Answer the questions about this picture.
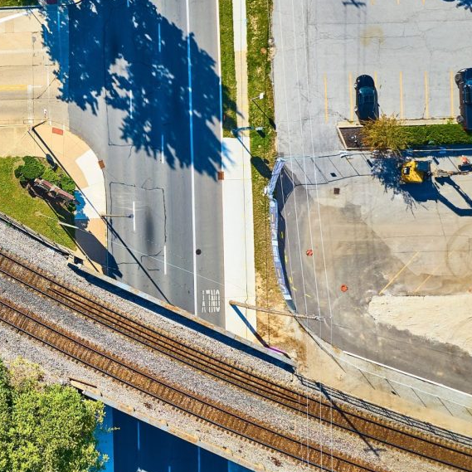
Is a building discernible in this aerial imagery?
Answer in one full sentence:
No, there isn't any building down there.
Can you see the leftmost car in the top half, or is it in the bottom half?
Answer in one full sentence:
It is in the top half that the leftmost car appears.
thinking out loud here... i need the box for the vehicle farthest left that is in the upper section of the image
[355,75,378,122]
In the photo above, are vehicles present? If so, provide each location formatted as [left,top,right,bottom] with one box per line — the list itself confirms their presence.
[355,75,378,122]
[400,161,472,184]
[455,71,472,129]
